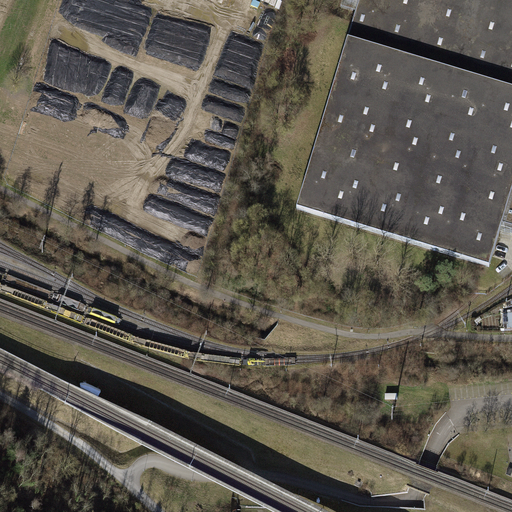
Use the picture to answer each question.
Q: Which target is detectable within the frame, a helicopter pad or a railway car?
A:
railway car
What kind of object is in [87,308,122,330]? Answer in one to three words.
rail car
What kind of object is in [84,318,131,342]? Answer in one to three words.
rail car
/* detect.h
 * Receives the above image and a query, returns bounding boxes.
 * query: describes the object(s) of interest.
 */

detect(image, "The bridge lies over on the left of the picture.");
[0,348,329,512]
